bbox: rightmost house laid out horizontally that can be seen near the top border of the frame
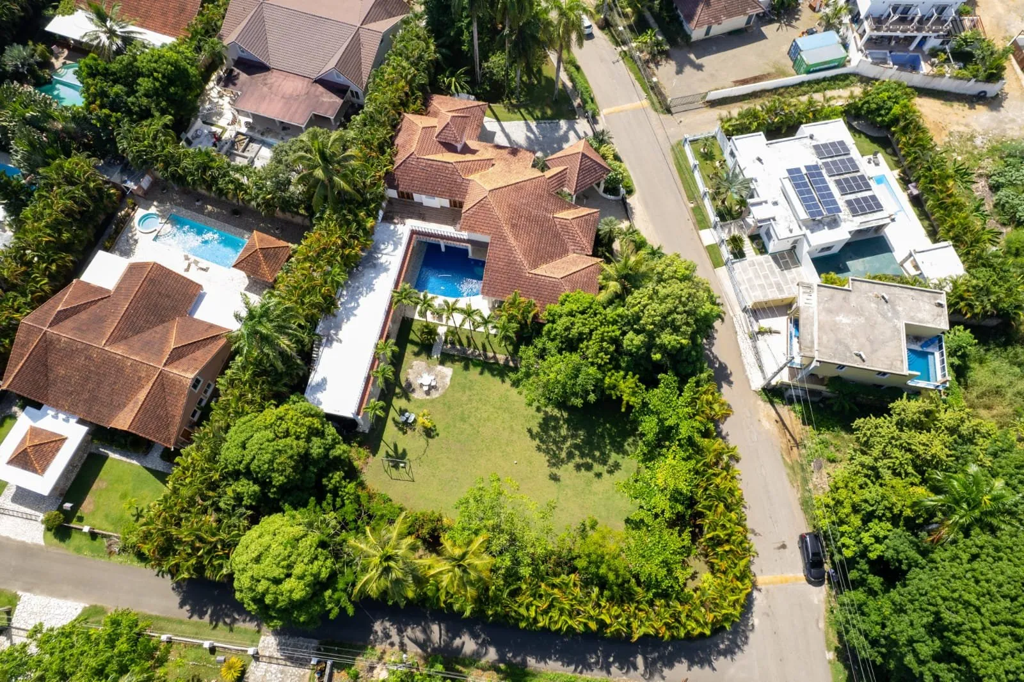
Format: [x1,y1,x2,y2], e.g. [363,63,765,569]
[849,0,971,52]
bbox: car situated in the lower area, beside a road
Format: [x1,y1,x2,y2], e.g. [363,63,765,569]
[796,534,828,589]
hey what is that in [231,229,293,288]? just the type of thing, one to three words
gazebo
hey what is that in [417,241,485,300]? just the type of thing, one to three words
swimming pool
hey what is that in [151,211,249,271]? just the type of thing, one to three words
swimming pool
